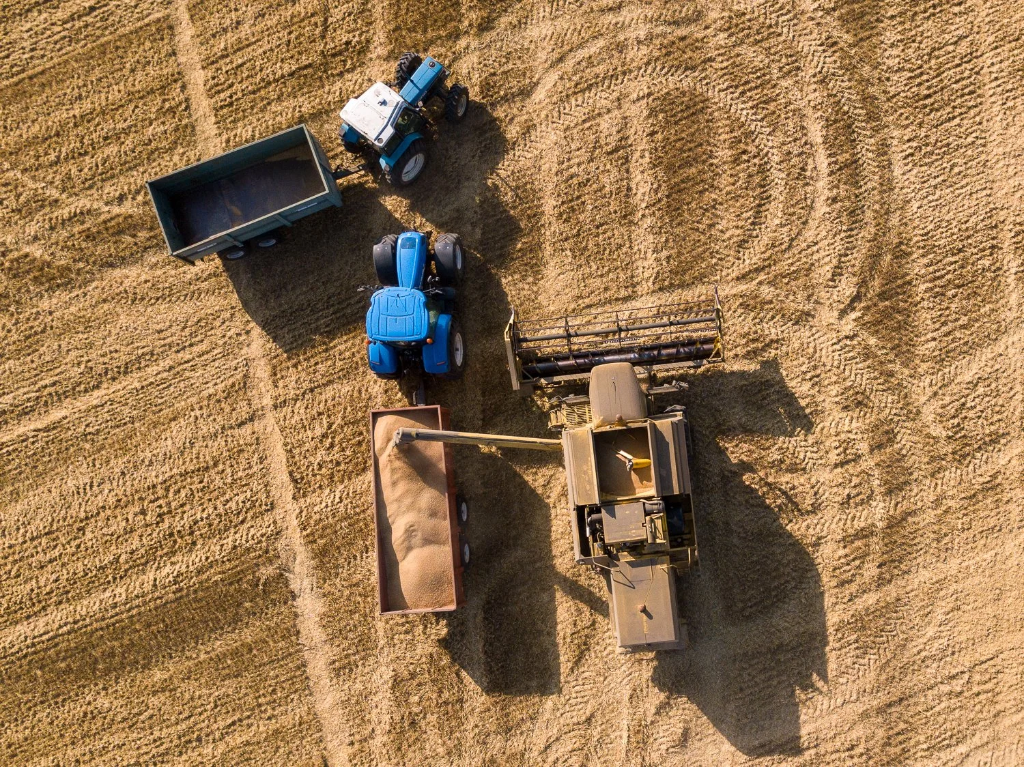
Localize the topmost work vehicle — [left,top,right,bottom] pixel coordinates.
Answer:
[338,45,471,187]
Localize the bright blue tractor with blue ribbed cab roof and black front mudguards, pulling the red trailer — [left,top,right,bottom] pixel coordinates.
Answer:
[354,225,465,394]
